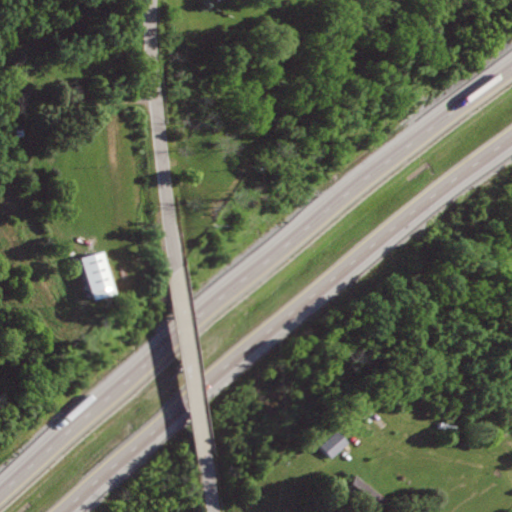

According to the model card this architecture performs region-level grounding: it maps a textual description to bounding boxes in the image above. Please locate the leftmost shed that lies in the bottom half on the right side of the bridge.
[322,432,349,459]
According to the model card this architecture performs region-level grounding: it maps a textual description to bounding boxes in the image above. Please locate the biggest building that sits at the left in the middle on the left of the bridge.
[82,251,118,302]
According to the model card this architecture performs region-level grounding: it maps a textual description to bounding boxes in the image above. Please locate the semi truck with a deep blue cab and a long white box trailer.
[456,73,504,110]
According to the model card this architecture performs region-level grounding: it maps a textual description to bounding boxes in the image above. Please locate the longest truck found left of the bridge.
[57,394,98,432]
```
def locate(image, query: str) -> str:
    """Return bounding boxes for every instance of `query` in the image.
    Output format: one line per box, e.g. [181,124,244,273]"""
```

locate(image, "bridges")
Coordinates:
[166,255,216,472]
